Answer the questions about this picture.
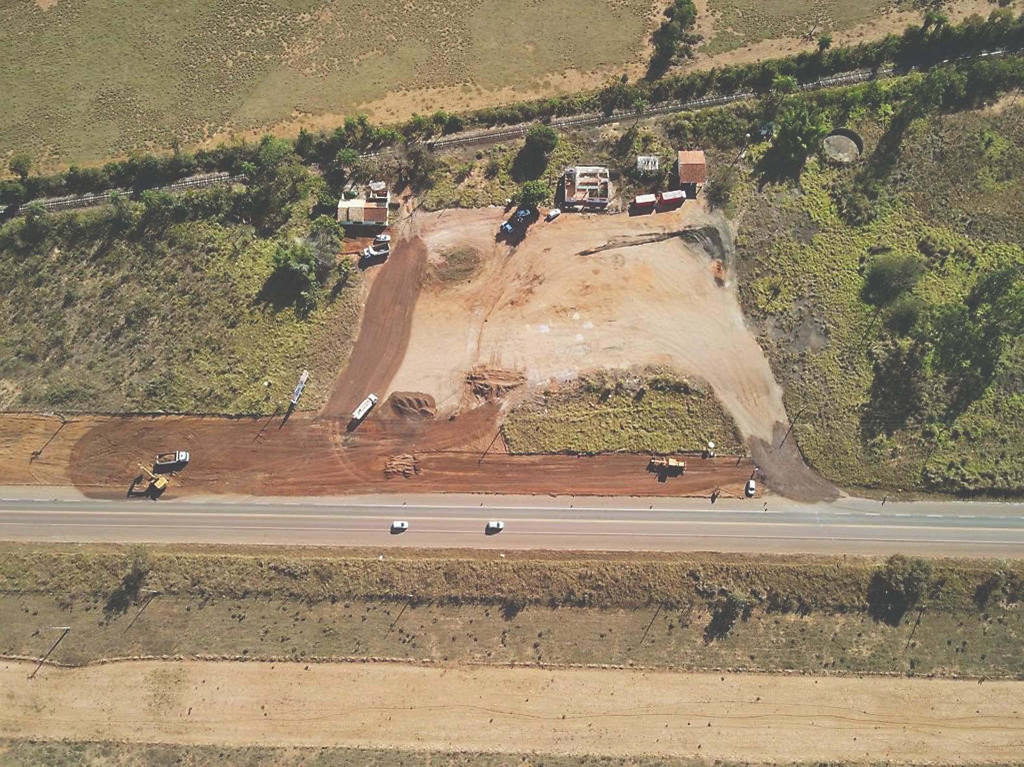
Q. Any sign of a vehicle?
Yes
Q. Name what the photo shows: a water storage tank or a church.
water storage tank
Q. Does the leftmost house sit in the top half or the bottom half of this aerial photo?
top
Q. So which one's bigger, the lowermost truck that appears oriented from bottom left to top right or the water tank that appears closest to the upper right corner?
the water tank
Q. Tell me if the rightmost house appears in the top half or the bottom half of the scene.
top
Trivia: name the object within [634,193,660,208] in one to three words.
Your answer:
vehicle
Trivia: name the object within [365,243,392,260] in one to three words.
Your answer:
vehicle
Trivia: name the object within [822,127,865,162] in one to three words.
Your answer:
water tank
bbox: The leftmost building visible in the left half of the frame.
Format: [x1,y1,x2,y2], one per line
[338,192,390,227]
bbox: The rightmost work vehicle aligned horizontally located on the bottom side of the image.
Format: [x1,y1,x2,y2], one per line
[650,459,685,471]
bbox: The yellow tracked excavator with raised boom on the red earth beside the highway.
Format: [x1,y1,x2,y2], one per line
[139,461,173,494]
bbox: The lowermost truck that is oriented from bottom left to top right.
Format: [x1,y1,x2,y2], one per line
[350,393,379,424]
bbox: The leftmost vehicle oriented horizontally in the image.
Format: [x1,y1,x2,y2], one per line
[156,452,193,464]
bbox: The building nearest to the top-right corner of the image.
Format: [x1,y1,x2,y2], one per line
[676,151,705,187]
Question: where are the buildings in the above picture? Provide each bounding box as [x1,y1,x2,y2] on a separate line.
[637,156,658,173]
[565,167,609,206]
[676,151,705,187]
[338,192,390,227]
